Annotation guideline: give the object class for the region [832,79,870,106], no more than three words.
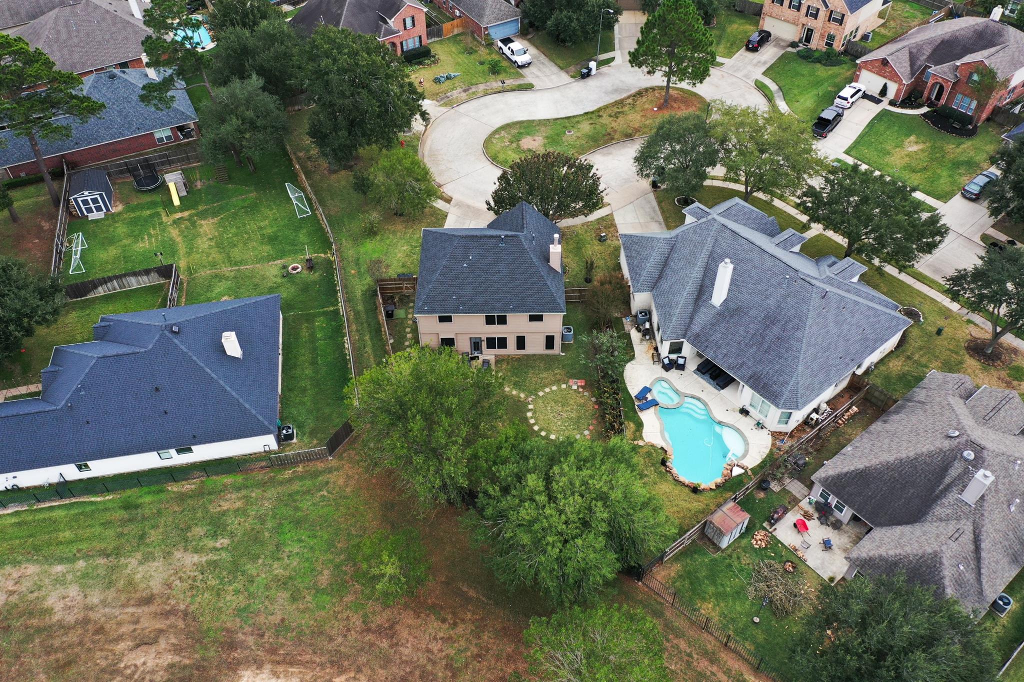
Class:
car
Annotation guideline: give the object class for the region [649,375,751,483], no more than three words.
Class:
swimming pool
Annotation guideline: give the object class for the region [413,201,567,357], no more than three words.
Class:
house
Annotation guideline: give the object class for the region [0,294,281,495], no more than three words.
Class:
house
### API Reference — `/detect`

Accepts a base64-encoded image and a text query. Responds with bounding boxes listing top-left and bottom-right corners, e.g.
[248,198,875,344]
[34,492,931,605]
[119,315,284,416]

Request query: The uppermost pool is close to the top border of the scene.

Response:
[172,16,214,47]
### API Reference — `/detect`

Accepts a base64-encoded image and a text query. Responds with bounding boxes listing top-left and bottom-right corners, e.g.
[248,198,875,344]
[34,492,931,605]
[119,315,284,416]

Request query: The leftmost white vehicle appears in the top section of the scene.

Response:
[495,35,535,68]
